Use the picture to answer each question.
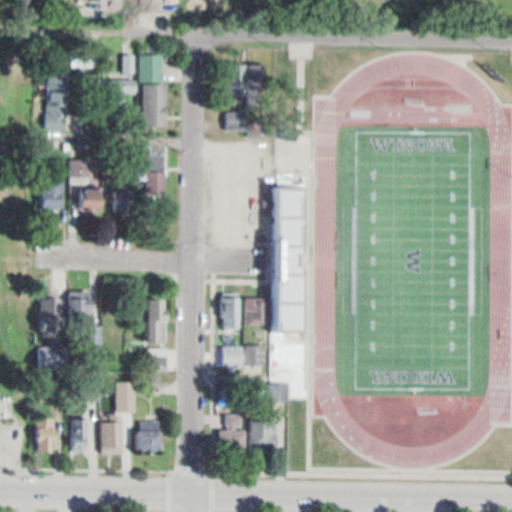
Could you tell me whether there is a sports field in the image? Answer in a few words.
Yes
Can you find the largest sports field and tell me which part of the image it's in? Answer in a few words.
right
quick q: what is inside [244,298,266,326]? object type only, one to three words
house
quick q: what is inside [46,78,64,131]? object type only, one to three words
house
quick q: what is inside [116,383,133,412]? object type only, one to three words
building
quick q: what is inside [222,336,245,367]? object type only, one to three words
building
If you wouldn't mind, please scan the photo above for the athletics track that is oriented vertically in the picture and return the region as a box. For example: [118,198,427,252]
[312,52,512,468]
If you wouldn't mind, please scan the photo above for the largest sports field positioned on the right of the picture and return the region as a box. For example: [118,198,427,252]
[336,127,490,395]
